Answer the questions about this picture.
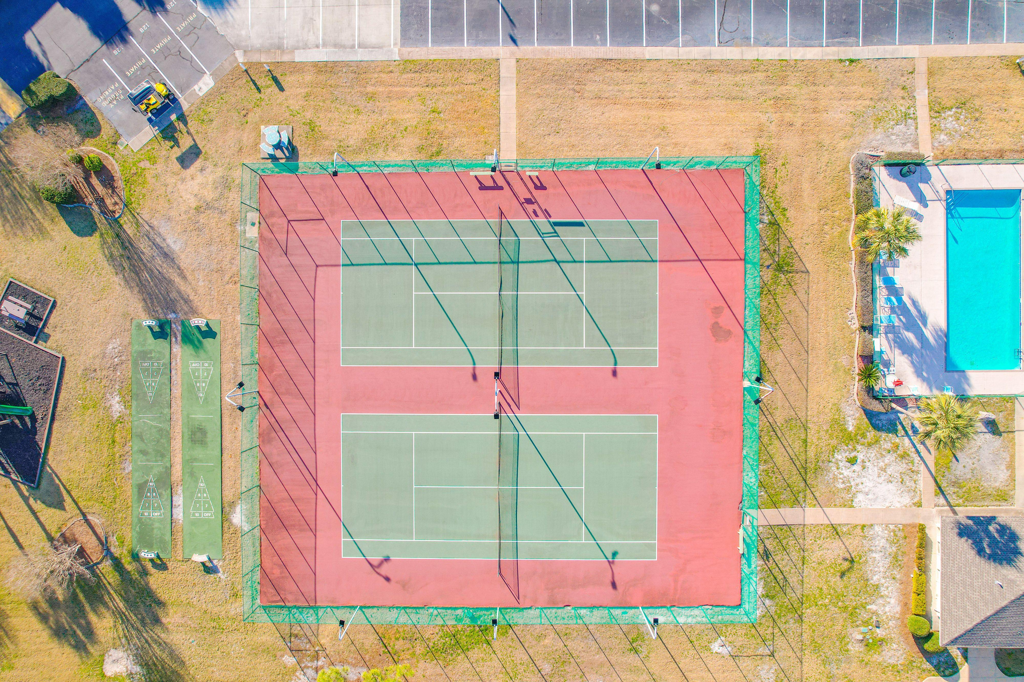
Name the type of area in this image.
sports ground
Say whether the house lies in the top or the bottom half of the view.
bottom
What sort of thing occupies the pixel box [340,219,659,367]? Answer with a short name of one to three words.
tennis court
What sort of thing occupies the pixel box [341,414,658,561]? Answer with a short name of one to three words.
tennis court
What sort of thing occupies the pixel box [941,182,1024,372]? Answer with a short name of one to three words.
swimming pool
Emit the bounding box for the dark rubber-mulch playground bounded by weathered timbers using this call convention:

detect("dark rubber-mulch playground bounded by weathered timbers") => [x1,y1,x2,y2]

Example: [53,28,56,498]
[0,278,63,487]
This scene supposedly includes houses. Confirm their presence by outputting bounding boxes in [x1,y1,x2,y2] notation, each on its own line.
[938,515,1024,647]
